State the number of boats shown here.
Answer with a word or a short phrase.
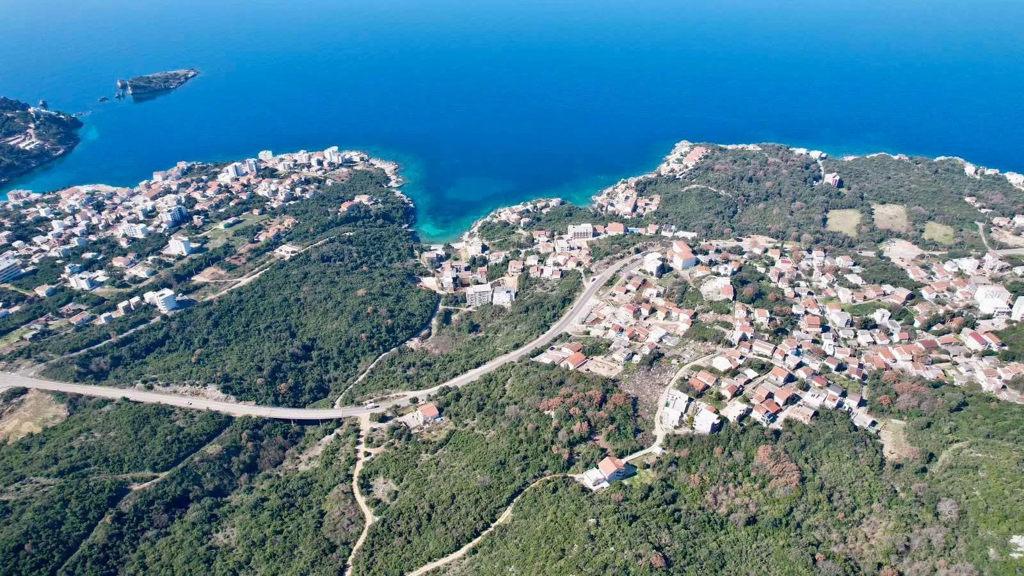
zero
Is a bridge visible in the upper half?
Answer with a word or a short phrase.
No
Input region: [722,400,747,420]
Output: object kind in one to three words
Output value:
house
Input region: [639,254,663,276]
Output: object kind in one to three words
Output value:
building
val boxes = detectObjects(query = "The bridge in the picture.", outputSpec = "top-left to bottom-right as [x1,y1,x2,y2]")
[223,404,366,433]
